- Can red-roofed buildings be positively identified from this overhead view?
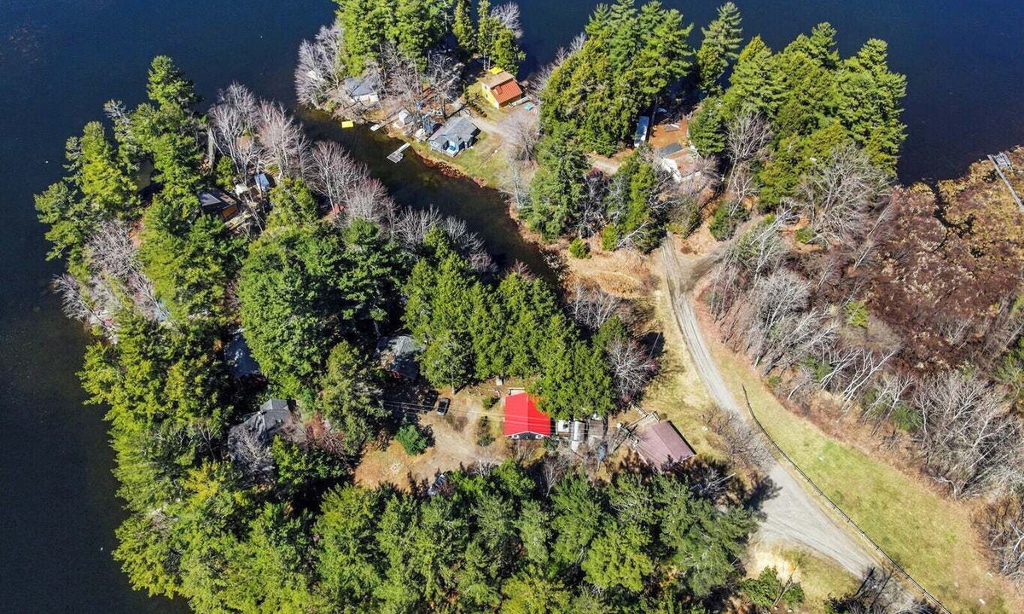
Yes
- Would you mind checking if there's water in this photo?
Yes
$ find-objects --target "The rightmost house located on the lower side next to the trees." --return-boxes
[624,415,695,477]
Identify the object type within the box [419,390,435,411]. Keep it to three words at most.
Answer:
car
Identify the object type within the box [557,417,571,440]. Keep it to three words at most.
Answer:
camper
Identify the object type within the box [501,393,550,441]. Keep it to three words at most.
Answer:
house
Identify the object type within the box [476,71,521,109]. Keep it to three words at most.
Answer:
house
